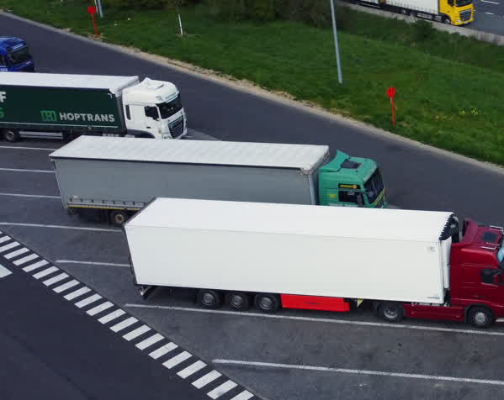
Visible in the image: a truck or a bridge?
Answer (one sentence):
Visible in the photo is a truck.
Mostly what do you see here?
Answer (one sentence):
For the most part, this view shows paved ground.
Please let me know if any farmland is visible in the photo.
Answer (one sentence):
No, the picture contains no farmland.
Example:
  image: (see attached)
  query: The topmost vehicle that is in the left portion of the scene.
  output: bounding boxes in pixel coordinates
[0,41,34,72]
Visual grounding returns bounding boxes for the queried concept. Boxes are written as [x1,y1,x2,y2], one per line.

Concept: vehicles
[345,0,472,24]
[122,197,504,325]
[49,138,384,229]
[0,71,183,144]
[0,41,34,72]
